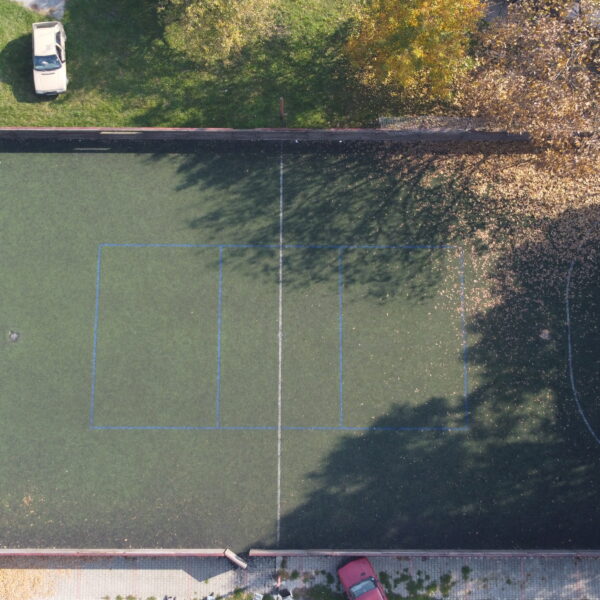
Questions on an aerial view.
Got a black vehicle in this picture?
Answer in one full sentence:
No, there's no black vehicle here.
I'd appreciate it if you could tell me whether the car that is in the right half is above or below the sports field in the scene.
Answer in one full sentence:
Looking at the photo, you'll find the car that is in the right half below the sports field.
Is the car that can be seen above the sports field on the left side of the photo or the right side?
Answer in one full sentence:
The car that can be seen above the sports field sits on the left side.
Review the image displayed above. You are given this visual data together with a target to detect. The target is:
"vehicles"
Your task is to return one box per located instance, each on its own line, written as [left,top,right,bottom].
[337,555,387,600]
[29,24,70,98]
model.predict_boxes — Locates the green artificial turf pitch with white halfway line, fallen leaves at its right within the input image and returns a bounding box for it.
[0,138,600,550]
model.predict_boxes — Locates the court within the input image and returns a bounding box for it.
[91,244,468,430]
